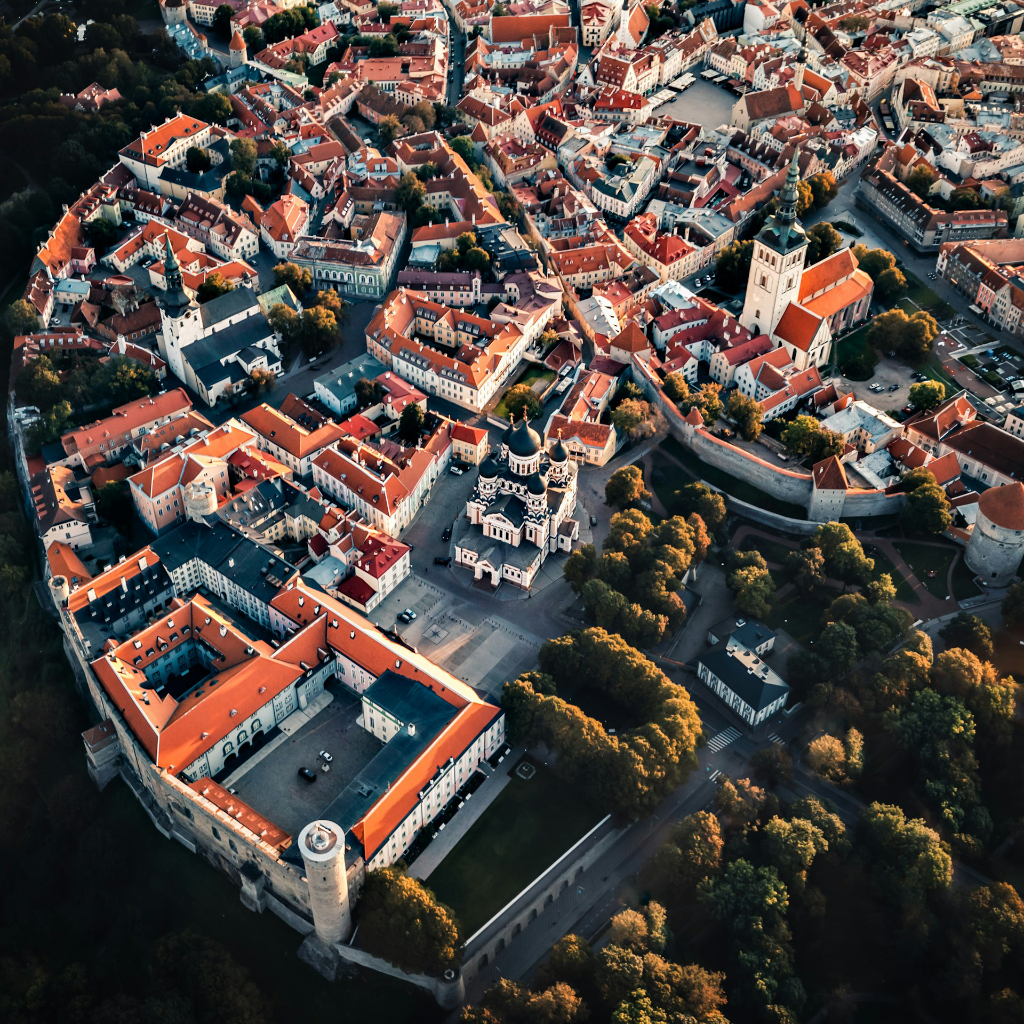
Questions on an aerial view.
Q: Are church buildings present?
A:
Yes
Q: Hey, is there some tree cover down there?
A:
Yes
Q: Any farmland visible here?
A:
No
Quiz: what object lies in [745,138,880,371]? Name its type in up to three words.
church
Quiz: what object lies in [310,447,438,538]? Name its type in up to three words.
building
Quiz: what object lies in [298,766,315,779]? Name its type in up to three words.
vehicle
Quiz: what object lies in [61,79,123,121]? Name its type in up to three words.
house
